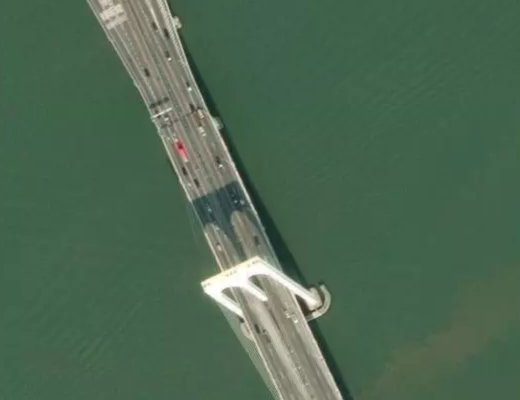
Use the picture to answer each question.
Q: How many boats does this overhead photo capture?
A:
0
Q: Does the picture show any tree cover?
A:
No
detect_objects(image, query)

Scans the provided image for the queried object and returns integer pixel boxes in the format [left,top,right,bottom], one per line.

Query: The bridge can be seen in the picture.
[87,0,344,400]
